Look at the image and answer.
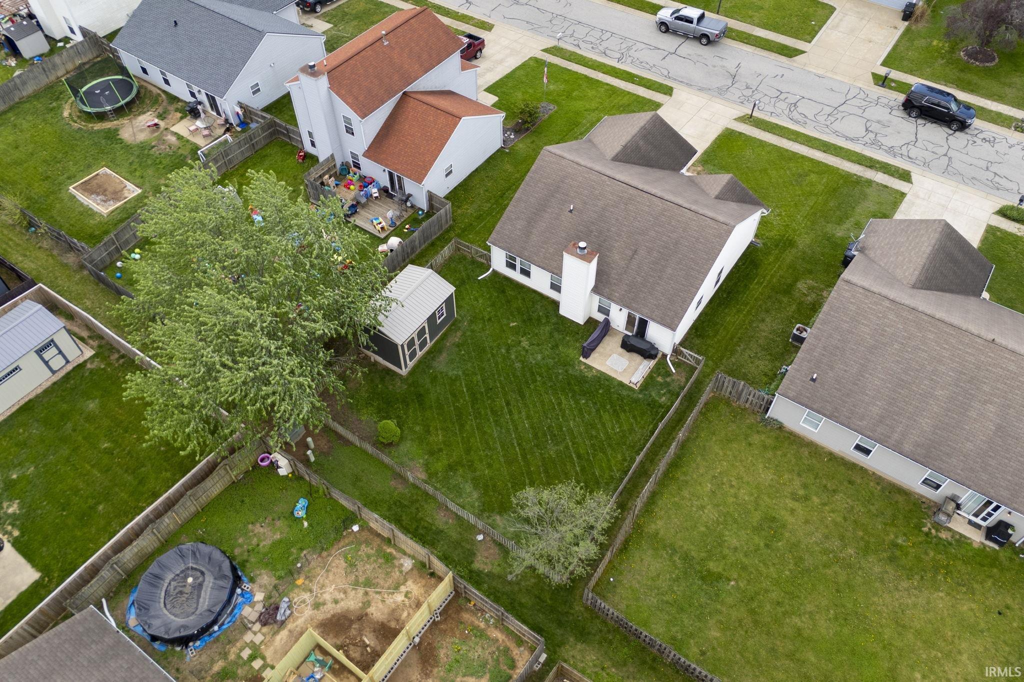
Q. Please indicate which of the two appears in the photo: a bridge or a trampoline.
trampoline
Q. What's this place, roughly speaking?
residential area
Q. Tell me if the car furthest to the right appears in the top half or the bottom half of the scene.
top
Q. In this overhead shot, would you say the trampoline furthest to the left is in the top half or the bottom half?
top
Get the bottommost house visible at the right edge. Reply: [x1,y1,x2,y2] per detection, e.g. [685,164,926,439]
[770,218,1024,552]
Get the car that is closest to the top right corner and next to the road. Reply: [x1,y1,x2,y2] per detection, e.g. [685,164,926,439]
[899,83,980,133]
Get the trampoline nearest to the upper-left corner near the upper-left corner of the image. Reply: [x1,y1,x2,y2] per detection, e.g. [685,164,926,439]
[65,53,140,124]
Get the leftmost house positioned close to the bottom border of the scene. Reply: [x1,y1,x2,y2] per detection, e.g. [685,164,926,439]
[0,599,183,682]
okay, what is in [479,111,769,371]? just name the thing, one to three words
house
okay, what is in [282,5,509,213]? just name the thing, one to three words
house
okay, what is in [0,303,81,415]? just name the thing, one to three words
shed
